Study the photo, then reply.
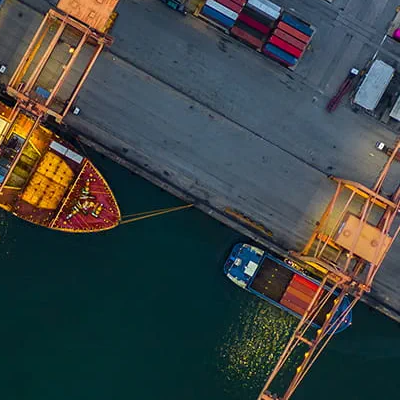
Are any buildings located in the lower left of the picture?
No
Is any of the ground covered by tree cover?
No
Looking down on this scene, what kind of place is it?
port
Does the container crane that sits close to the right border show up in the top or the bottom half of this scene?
bottom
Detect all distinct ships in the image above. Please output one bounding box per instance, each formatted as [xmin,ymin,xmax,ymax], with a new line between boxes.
[221,240,354,329]
[0,100,121,231]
